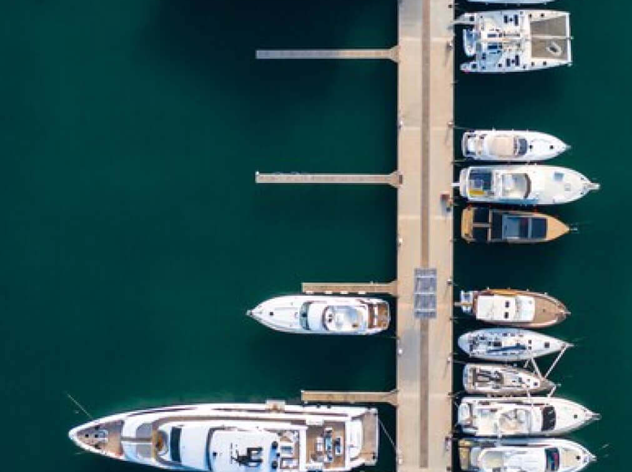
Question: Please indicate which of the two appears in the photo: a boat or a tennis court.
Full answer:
This aerial view contains a boat.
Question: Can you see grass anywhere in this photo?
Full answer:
No, there is no grass in the image.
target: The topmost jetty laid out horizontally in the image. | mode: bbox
[256,46,397,62]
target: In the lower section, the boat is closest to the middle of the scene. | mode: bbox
[244,293,397,336]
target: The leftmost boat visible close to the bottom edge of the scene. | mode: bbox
[67,395,396,472]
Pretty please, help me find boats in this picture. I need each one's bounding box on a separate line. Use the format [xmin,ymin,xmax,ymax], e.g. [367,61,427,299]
[464,26,475,56]
[453,394,601,439]
[67,395,396,472]
[457,129,571,162]
[244,293,397,336]
[453,207,577,245]
[451,8,573,73]
[450,162,601,206]
[453,288,571,330]
[452,437,598,472]
[453,365,561,406]
[455,329,574,370]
